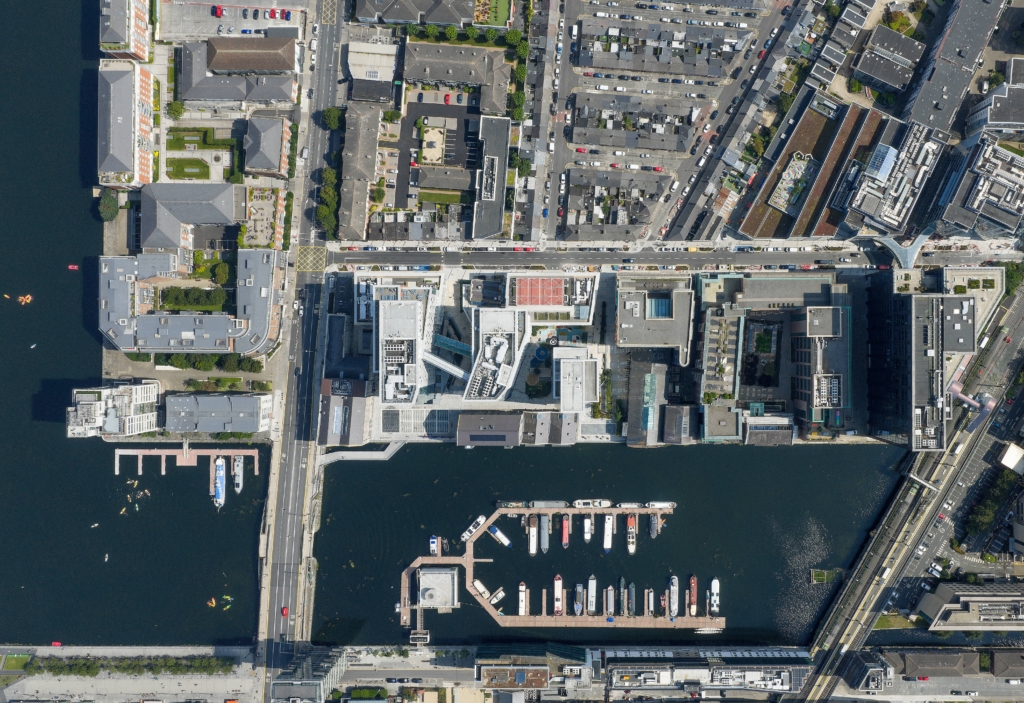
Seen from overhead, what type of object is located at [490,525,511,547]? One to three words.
boat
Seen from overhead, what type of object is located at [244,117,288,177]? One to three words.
house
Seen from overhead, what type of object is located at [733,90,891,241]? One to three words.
building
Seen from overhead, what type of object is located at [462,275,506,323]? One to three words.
building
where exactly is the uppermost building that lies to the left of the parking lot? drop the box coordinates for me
[100,0,149,68]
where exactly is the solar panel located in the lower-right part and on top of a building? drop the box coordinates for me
[791,669,804,687]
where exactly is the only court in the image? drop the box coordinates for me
[516,278,564,306]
